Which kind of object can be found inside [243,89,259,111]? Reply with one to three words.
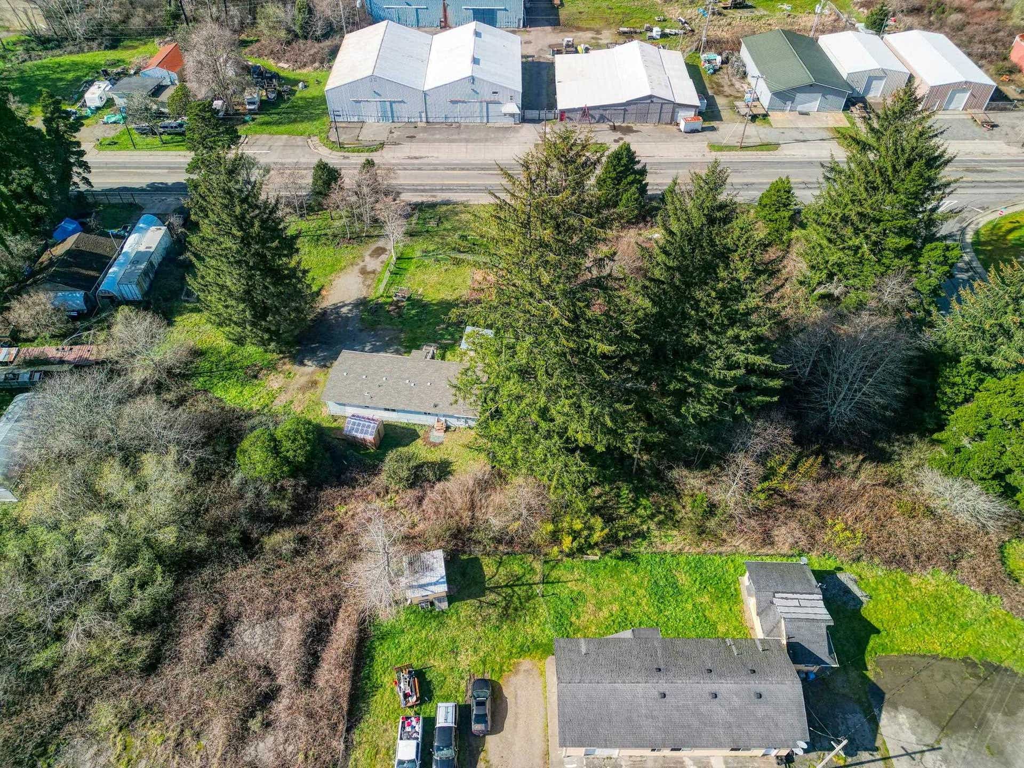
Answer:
vehicle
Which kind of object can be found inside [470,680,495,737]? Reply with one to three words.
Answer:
car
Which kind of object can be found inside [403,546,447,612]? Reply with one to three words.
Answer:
shed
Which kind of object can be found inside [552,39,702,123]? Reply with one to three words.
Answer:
building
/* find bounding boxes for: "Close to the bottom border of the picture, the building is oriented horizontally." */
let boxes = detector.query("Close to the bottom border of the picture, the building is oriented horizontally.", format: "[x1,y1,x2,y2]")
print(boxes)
[555,625,813,755]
